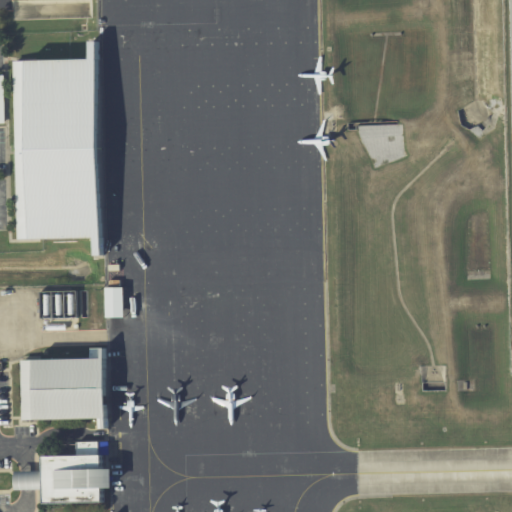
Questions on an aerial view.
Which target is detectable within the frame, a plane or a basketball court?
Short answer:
plane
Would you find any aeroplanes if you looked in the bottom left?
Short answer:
Yes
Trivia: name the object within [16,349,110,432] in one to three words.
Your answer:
hangar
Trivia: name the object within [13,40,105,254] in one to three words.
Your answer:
hangar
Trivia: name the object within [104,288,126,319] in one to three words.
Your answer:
shed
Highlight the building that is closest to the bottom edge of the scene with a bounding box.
[41,456,115,504]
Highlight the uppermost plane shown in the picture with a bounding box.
[298,56,333,95]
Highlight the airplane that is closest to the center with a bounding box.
[297,122,333,162]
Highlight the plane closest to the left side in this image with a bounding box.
[118,394,144,428]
